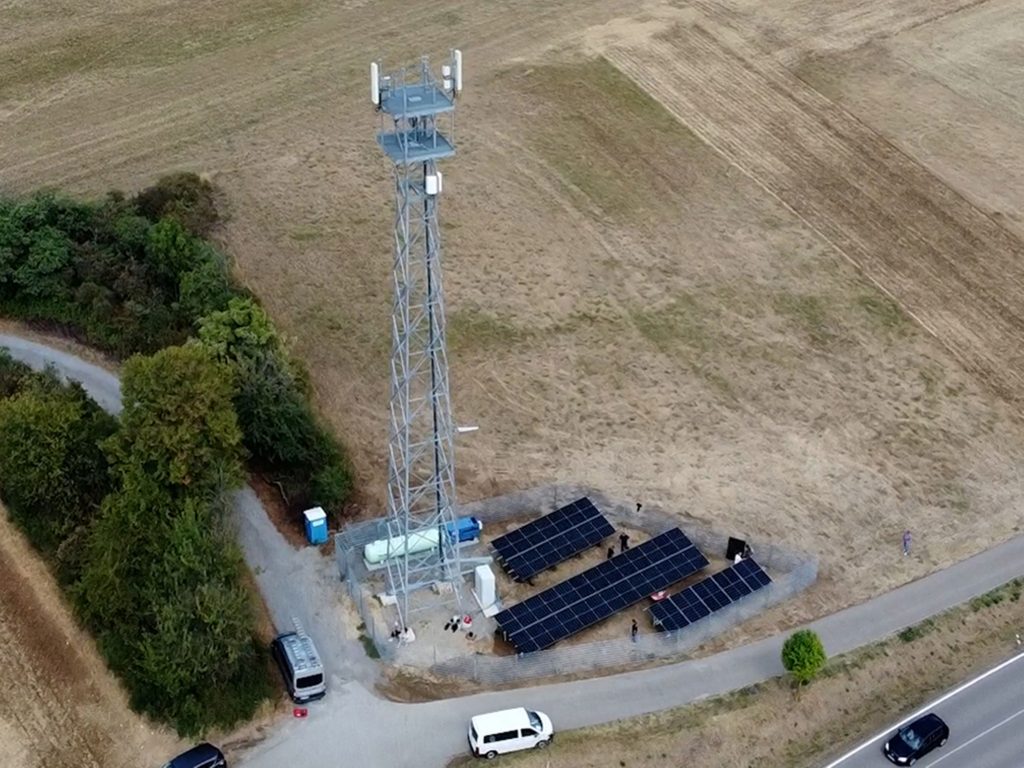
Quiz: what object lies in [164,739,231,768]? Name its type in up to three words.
car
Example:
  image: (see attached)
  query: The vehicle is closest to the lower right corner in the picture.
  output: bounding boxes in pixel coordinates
[886,711,954,767]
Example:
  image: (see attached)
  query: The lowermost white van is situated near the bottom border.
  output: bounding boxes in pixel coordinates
[466,708,556,759]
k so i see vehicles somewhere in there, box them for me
[273,633,326,701]
[466,708,556,759]
[886,711,954,767]
[164,739,231,768]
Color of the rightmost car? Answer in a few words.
black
